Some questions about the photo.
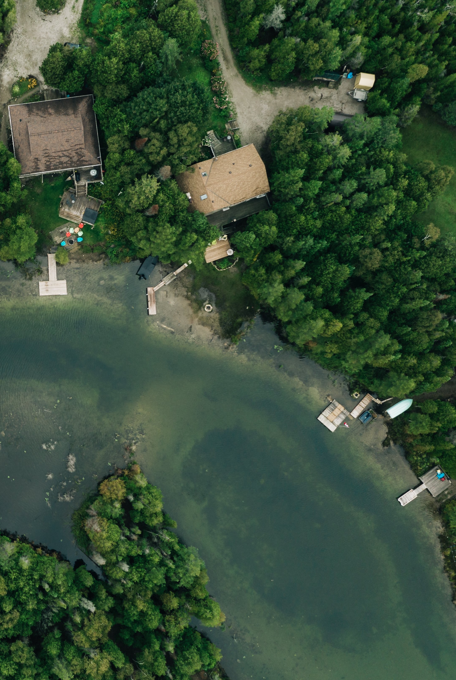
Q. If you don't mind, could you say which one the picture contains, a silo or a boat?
boat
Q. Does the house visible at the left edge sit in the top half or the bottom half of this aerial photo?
top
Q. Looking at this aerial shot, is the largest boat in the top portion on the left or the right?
left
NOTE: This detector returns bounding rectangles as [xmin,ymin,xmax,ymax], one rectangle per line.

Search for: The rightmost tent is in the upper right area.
[354,73,375,91]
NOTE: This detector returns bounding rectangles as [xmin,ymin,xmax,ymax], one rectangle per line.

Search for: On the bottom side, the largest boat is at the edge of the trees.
[384,399,412,418]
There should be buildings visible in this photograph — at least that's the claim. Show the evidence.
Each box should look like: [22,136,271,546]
[174,130,273,234]
[8,90,104,226]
